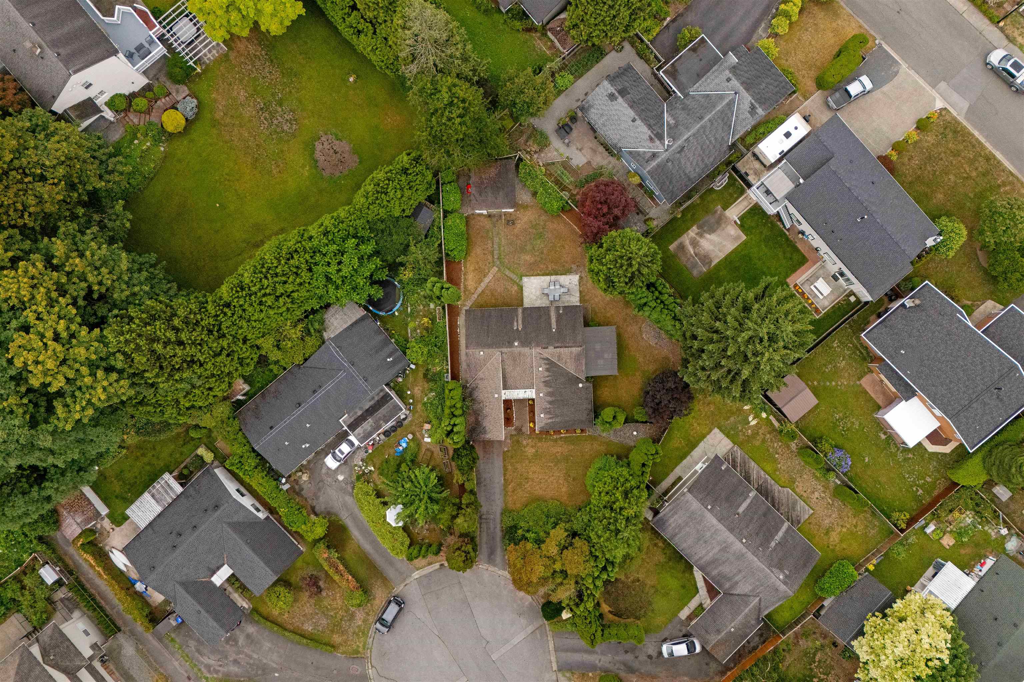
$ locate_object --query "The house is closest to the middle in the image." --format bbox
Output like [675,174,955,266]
[465,304,594,441]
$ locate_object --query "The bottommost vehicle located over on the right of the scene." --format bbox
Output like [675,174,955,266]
[662,638,705,660]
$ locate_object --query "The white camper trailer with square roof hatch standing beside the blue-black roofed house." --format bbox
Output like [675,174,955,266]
[745,109,813,174]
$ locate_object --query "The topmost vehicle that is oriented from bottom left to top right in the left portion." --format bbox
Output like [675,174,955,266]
[322,434,359,471]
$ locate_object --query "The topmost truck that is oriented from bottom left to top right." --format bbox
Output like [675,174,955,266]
[828,72,877,109]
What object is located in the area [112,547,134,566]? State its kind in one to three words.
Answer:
boat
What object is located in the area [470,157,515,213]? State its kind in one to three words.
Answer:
shed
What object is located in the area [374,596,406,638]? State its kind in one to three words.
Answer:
car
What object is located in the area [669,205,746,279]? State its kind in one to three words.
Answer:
sports court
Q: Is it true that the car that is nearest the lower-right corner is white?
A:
Yes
